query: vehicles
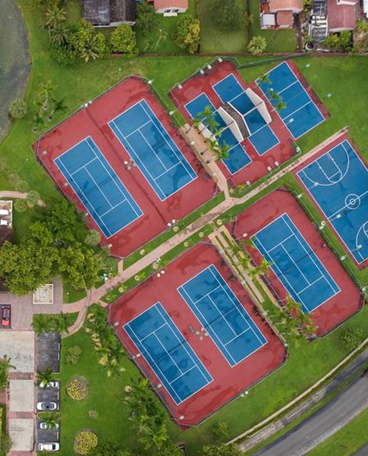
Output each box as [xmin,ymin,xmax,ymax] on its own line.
[37,403,57,410]
[39,423,58,430]
[39,380,57,387]
[1,306,9,325]
[39,443,58,451]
